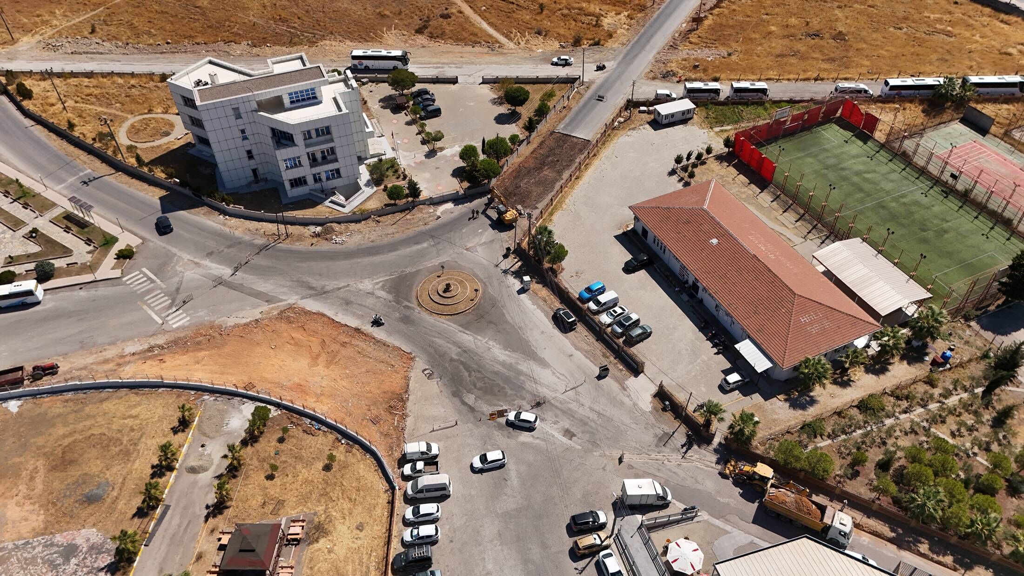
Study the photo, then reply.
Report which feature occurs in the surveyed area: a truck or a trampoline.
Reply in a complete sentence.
Of the two, only a truck appears.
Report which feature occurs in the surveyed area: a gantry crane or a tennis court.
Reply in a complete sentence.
Looking from above, you can make out a tennis court.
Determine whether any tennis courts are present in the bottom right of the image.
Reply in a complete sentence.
No, no tennis court is visible in the bottom right of the image.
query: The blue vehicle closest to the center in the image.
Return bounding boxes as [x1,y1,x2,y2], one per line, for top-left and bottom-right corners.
[577,283,607,304]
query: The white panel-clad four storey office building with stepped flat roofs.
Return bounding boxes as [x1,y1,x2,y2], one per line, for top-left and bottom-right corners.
[167,53,368,196]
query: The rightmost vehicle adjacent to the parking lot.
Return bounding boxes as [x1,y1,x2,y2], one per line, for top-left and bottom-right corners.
[492,193,519,231]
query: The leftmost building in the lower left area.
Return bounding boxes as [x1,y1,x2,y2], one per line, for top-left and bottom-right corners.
[220,524,285,576]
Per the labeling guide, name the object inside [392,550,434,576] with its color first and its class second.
black car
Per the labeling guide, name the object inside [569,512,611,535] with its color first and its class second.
black car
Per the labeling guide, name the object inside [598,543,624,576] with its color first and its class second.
white car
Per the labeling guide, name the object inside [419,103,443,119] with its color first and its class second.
black vehicle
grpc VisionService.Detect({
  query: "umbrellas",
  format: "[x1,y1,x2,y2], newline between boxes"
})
[666,539,704,576]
